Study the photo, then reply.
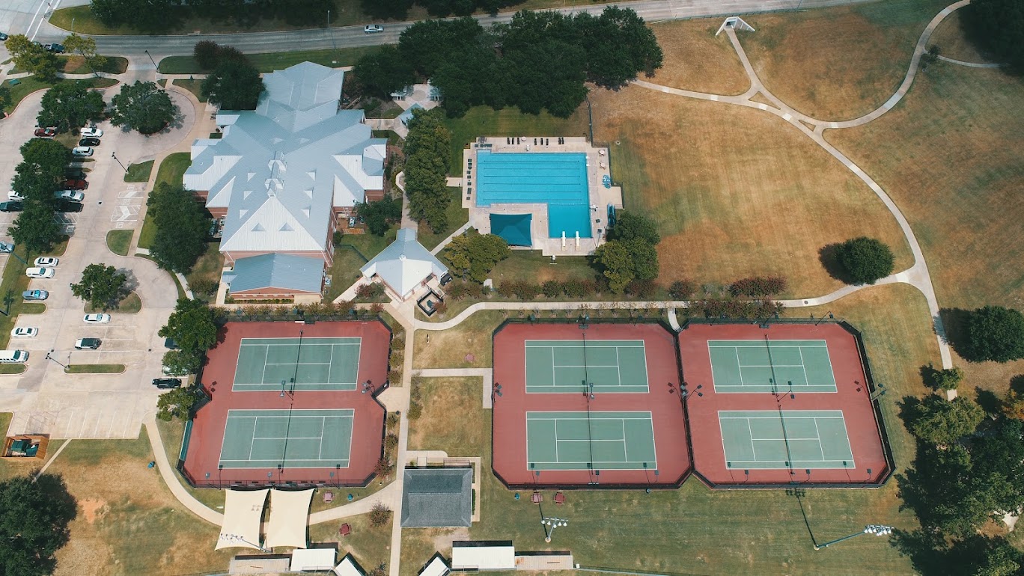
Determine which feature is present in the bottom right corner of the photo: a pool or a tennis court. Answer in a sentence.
The feature located in the bottom right corner of the photo is a tennis court.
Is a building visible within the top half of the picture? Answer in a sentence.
Yes, a building appears within the top half of the picture.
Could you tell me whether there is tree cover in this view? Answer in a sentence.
Yes, tree cover shows up in the scene.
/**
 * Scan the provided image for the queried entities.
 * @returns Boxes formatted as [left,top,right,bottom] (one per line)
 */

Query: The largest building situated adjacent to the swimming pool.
[184,60,390,300]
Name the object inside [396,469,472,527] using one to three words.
building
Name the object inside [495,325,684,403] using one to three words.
tennis court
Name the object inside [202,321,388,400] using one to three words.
tennis court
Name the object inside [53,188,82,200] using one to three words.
vehicle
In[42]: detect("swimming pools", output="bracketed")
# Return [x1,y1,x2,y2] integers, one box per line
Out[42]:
[462,136,623,256]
